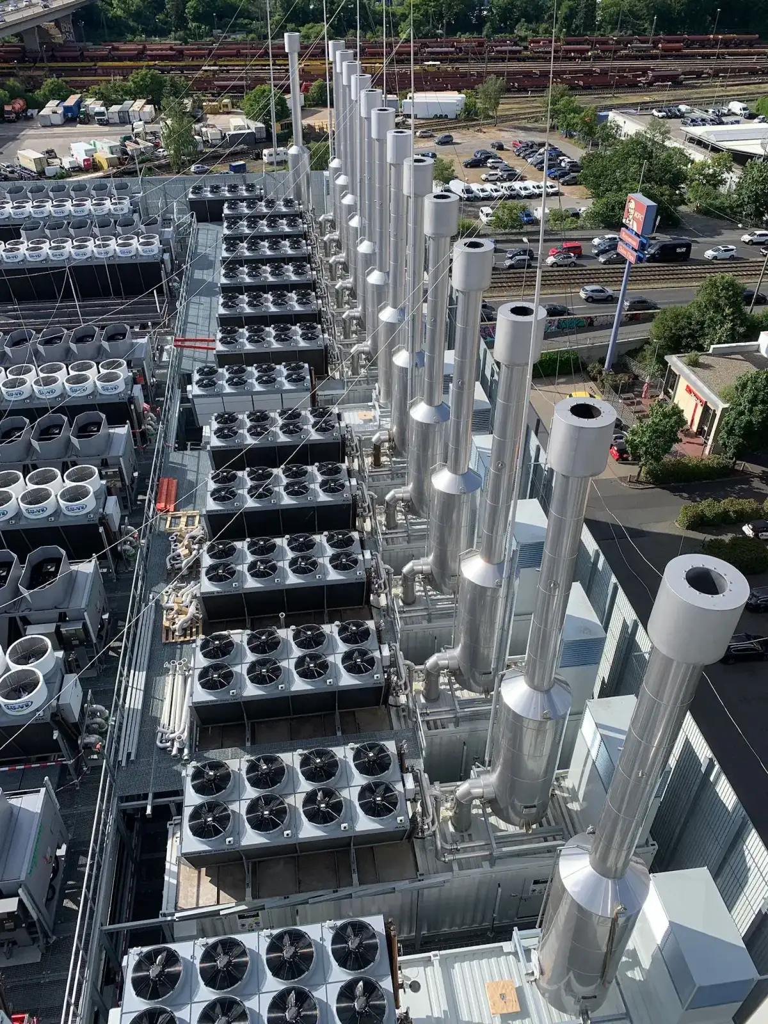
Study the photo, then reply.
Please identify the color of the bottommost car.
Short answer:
black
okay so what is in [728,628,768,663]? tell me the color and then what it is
black car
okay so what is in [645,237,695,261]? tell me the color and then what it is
black vehicle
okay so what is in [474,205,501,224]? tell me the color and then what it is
white vehicle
